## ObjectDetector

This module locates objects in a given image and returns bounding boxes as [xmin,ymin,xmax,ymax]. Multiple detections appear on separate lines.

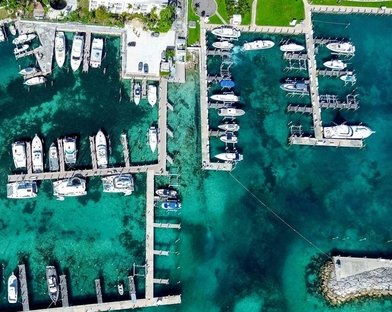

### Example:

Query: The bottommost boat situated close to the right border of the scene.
[321,125,377,139]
